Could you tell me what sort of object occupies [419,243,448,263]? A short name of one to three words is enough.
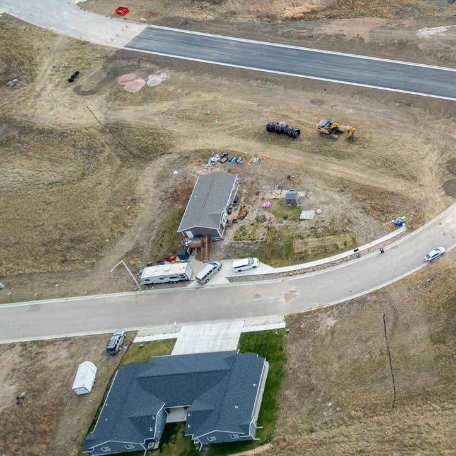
car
